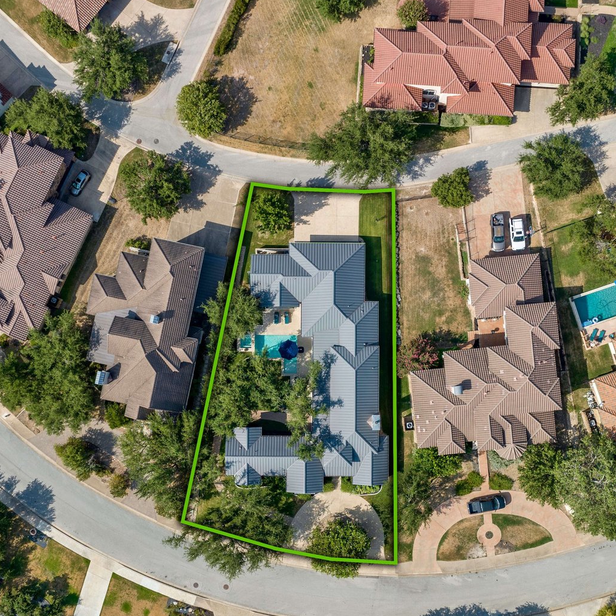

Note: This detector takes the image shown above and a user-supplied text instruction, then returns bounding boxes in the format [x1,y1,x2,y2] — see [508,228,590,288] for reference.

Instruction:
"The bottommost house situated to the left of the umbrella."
[87,238,227,422]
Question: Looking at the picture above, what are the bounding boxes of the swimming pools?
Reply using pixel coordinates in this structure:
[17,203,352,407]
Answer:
[572,284,616,330]
[238,333,300,376]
